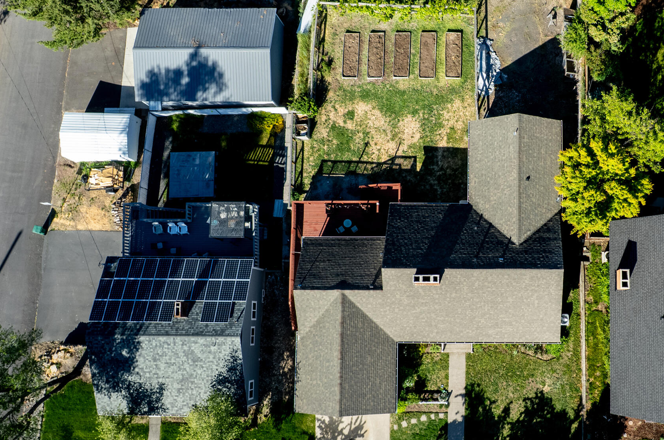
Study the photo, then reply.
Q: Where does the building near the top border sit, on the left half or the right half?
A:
left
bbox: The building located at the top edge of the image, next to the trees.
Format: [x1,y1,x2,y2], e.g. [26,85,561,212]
[120,8,287,114]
